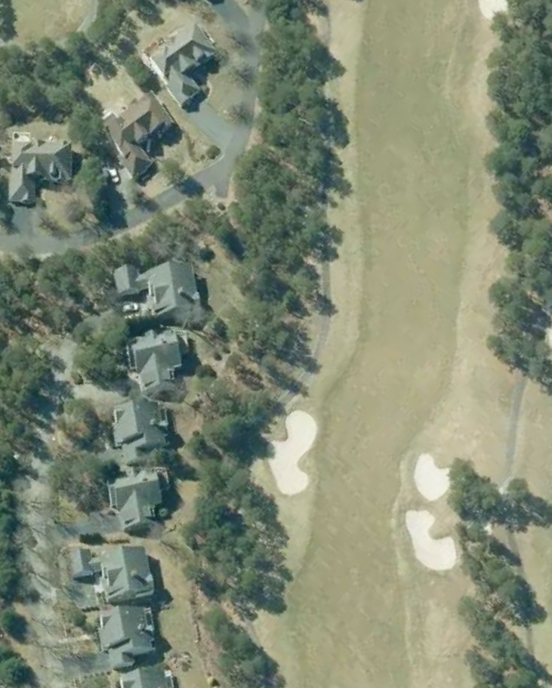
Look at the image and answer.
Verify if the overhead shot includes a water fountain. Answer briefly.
No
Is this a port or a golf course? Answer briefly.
golf course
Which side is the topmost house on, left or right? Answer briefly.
left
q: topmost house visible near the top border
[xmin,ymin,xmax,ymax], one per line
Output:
[150,24,215,111]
